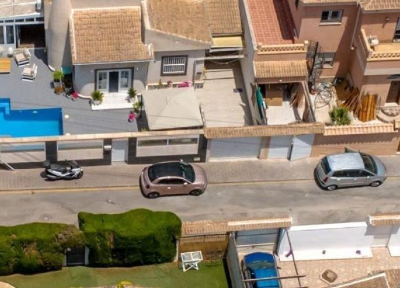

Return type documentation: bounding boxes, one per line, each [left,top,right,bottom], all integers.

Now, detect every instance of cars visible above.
[139,156,210,199]
[243,248,288,288]
[314,149,391,191]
